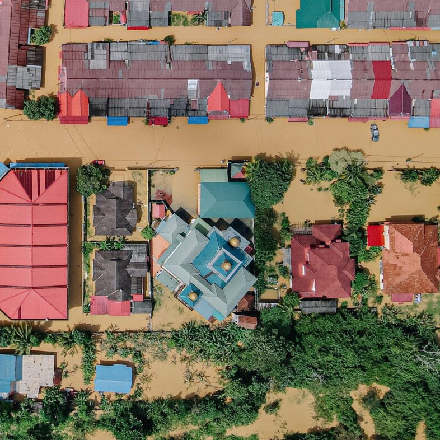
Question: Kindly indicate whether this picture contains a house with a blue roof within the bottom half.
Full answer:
Yes, I can see a house with a blue roof within the bottom half.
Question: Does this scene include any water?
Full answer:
Yes, water can be seen from above here.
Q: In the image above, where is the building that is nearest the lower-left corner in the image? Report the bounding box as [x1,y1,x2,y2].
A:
[0,352,62,399]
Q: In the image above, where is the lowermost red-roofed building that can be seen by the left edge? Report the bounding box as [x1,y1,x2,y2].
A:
[0,162,69,320]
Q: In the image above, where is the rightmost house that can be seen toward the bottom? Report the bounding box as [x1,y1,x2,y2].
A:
[362,224,440,305]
